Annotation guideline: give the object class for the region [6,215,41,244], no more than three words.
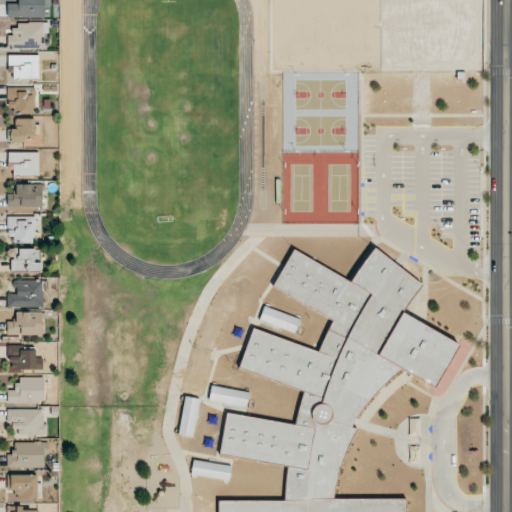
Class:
house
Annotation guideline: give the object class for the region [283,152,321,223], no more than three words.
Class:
tennis court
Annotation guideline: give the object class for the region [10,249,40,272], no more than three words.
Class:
house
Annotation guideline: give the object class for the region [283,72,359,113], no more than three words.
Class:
basketball court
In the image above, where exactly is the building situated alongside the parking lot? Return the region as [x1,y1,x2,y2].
[218,247,460,512]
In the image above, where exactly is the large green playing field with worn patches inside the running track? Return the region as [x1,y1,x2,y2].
[97,0,239,265]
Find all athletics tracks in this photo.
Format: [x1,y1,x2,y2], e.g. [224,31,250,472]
[83,0,253,279]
